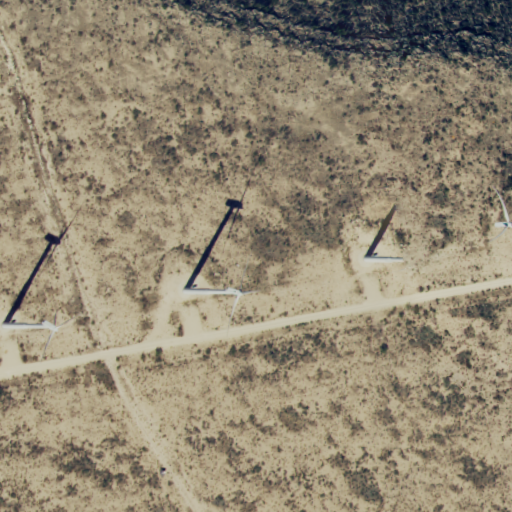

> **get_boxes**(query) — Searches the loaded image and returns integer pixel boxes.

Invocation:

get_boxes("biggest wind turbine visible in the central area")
[180,277,256,328]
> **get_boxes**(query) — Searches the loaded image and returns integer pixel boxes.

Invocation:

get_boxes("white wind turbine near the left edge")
[0,309,74,366]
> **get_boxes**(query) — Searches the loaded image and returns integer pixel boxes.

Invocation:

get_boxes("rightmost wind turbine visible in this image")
[486,190,512,246]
